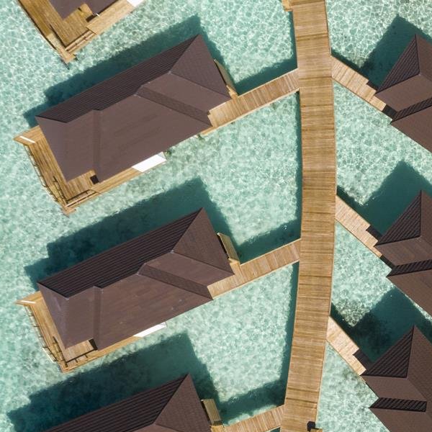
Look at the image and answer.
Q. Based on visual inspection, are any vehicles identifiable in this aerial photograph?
No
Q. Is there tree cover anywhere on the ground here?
No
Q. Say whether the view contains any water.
Yes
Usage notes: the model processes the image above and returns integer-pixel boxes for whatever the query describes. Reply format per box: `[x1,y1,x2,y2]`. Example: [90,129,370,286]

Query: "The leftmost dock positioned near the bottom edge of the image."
[225,404,282,432]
